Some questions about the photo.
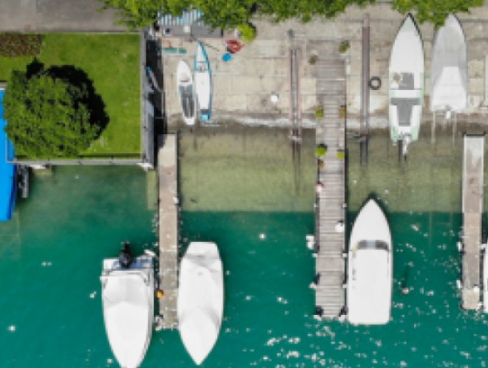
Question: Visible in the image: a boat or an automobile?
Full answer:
I can see a boat in this picture.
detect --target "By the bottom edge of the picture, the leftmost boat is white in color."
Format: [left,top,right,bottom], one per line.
[101,235,156,368]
